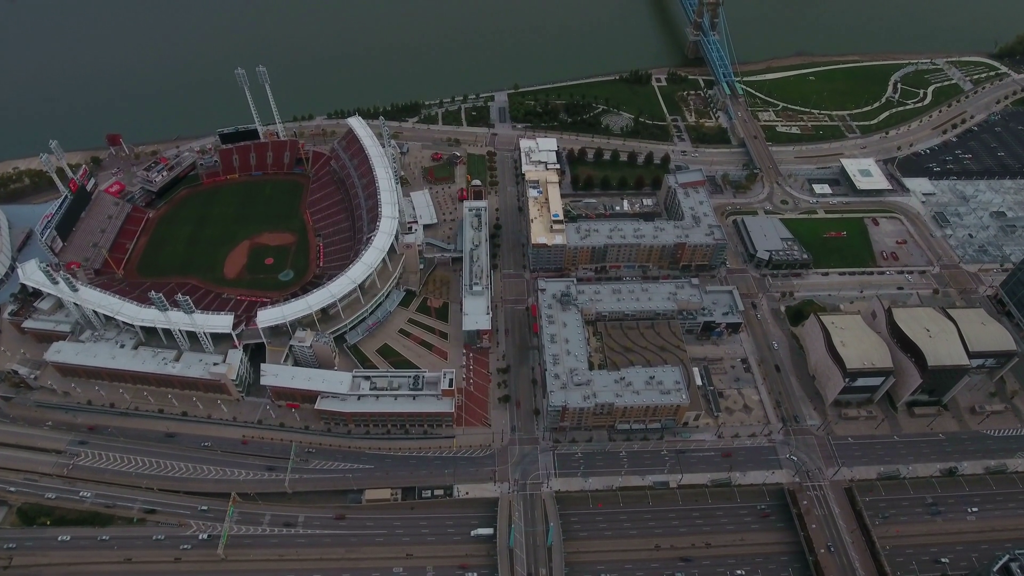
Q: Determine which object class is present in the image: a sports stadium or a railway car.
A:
sports stadium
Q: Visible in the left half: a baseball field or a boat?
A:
baseball field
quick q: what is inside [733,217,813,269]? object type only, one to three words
building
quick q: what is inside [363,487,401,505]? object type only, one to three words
building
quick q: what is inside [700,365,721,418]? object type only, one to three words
shed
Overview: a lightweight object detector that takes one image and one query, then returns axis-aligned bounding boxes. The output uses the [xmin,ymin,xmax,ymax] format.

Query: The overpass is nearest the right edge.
[786,481,890,576]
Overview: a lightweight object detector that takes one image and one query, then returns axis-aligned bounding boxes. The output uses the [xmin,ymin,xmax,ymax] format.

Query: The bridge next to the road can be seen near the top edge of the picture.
[679,0,783,187]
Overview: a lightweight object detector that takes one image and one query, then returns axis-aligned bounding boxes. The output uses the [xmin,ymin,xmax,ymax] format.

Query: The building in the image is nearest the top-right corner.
[839,158,893,196]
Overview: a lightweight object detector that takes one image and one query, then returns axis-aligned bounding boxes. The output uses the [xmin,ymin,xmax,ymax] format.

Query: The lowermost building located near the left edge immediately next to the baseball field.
[44,326,226,394]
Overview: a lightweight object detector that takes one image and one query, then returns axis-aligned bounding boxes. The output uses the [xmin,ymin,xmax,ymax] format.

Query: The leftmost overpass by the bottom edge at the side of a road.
[497,490,565,576]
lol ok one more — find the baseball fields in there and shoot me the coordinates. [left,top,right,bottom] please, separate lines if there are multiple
[124,174,318,295]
